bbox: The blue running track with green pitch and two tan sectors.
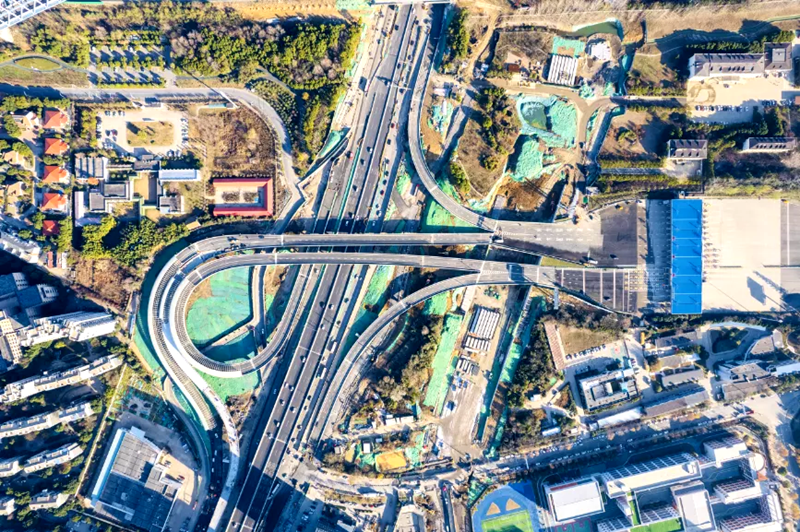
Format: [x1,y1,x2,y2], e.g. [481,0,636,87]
[472,478,539,532]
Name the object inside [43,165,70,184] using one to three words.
house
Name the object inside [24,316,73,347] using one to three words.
building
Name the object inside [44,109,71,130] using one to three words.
house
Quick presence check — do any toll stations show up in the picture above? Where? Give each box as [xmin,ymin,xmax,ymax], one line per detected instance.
[482,197,800,316]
